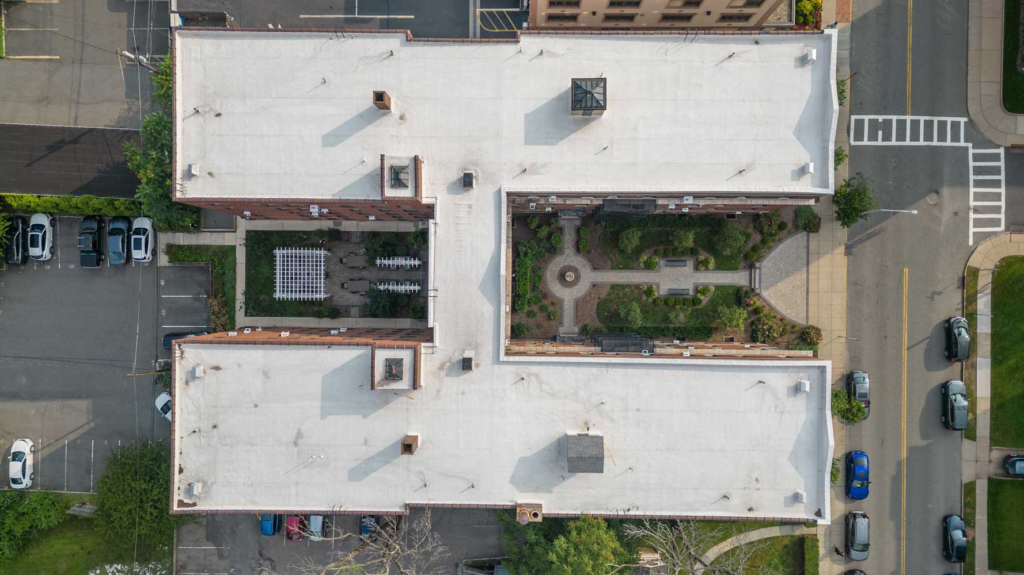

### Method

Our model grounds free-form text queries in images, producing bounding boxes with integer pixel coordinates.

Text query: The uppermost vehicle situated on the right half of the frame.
[945,316,973,363]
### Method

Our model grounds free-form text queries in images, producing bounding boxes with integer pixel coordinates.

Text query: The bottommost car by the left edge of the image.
[4,440,34,492]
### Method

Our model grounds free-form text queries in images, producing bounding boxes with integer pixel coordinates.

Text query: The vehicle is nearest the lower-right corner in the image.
[943,515,972,565]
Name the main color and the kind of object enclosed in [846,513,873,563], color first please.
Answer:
gray car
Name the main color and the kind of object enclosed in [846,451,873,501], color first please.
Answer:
blue car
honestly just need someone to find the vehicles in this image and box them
[0,214,28,264]
[4,440,34,492]
[846,371,873,418]
[103,216,131,265]
[945,316,973,363]
[158,330,206,351]
[943,381,972,431]
[943,515,972,565]
[127,217,154,263]
[73,214,104,269]
[846,513,873,563]
[1005,456,1024,476]
[287,515,308,540]
[310,515,331,540]
[25,213,54,260]
[156,393,172,431]
[846,451,873,501]
[262,515,285,536]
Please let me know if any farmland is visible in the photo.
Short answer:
No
